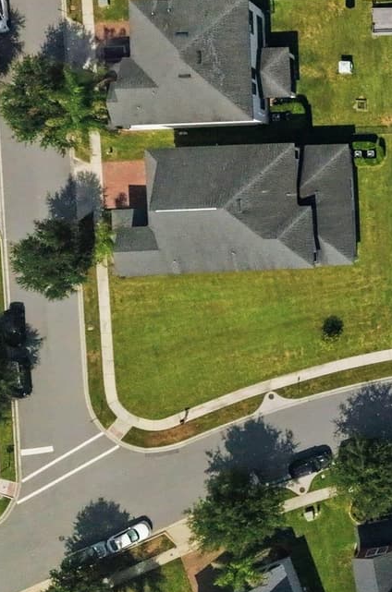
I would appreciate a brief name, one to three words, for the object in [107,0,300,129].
house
